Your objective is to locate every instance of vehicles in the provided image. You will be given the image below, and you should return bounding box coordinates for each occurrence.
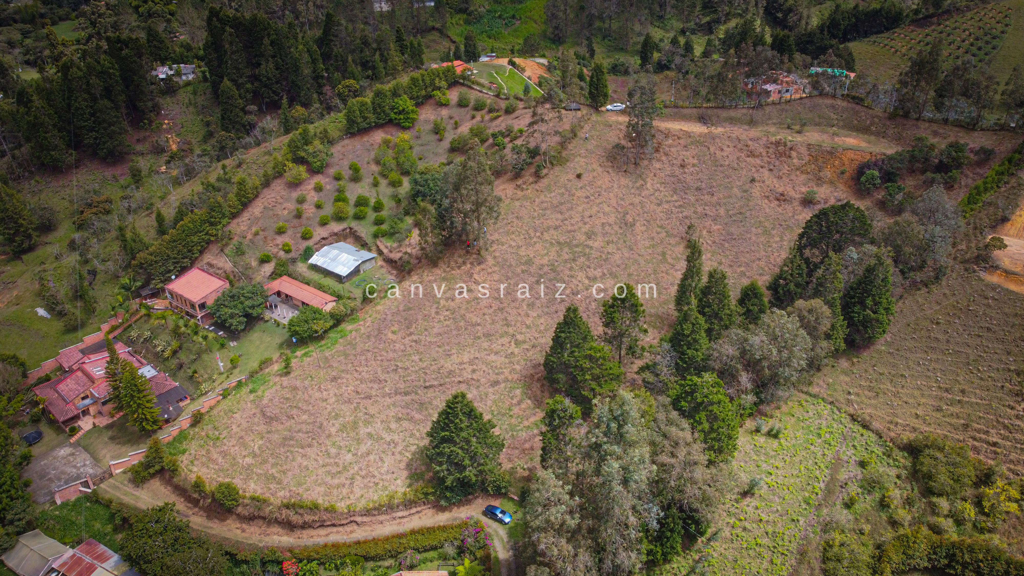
[481,500,517,525]
[605,103,626,111]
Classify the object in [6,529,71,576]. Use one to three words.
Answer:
greenhouse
